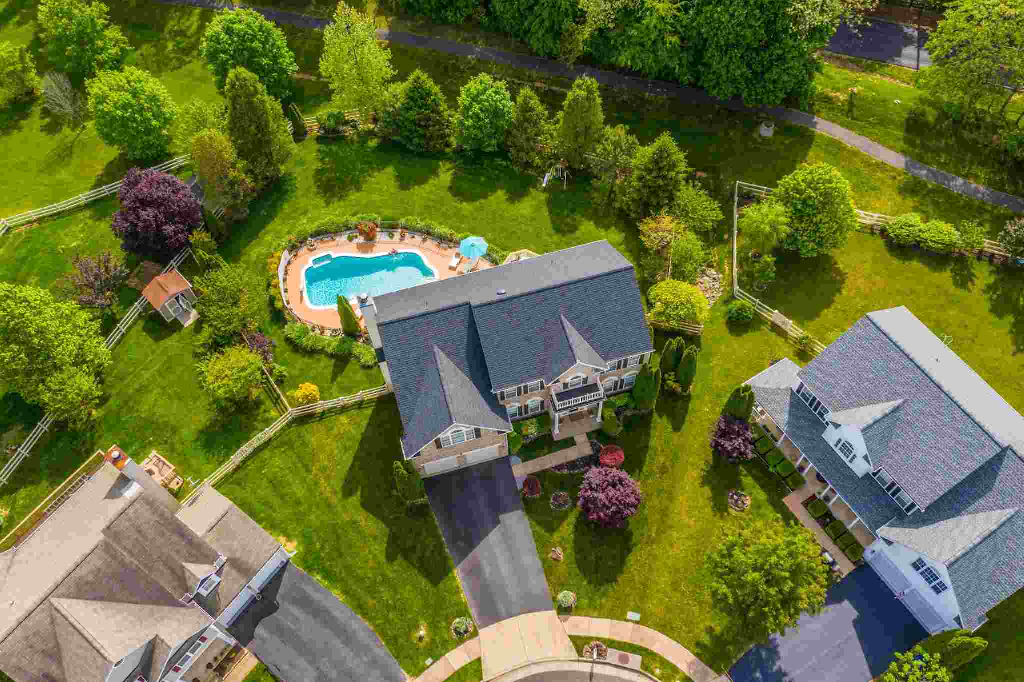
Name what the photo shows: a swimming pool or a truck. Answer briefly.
swimming pool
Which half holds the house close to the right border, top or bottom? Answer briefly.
bottom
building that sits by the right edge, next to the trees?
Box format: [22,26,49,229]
[745,306,1024,635]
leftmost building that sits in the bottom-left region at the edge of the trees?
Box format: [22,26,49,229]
[0,444,289,682]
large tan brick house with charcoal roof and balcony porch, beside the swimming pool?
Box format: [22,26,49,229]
[359,237,658,477]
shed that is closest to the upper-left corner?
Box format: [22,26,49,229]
[138,270,194,325]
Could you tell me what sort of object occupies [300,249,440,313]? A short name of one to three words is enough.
swimming pool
